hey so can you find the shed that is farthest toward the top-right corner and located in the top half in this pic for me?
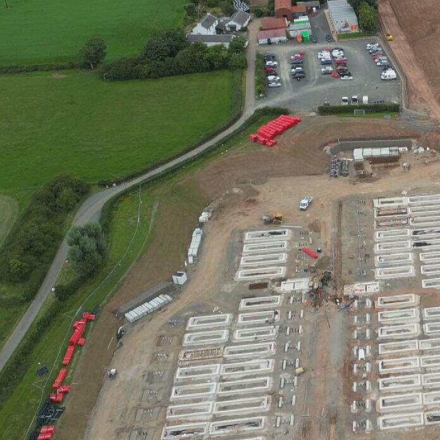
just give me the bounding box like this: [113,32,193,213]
[327,0,358,32]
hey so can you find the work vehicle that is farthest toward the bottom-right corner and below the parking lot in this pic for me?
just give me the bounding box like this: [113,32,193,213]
[304,269,336,286]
